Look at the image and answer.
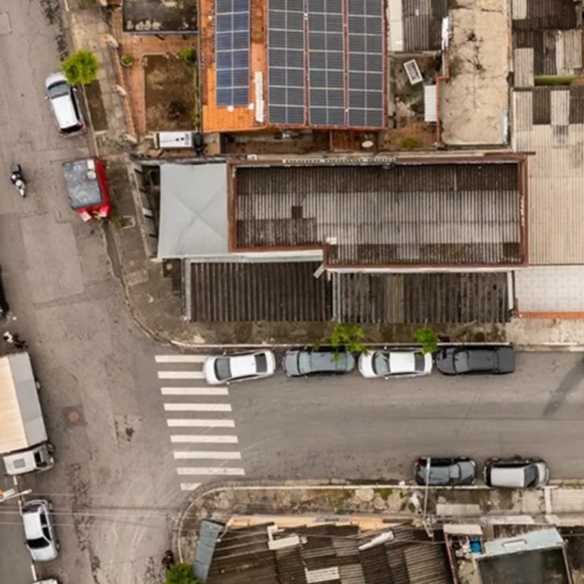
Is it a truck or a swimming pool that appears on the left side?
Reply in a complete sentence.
It is a truck that can be seen on the left side.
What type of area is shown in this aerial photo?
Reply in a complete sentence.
It's a residential area.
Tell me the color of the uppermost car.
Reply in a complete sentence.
The color of the uppermost car is white.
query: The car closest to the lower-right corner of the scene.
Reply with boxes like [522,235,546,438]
[483,455,550,493]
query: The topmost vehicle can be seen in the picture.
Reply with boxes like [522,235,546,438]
[42,71,88,138]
